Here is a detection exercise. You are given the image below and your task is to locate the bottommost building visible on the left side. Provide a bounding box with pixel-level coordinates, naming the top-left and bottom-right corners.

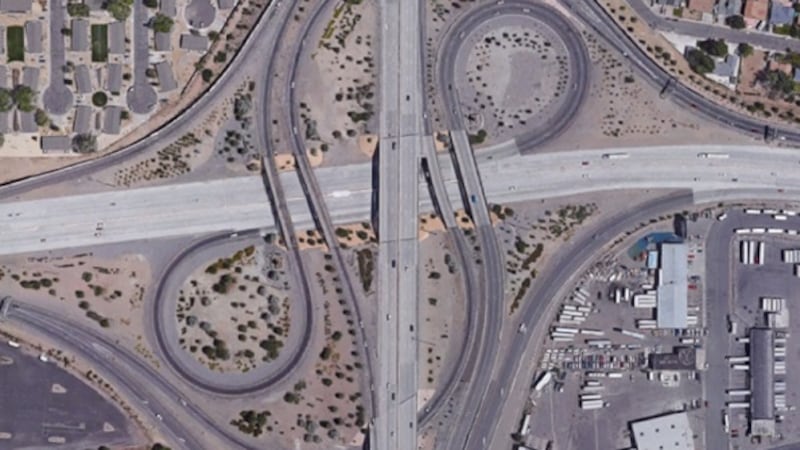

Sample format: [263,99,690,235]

[41,137,70,150]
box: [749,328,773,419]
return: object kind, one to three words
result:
building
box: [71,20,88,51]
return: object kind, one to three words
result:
house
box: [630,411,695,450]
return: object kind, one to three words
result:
building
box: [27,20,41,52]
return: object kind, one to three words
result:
house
